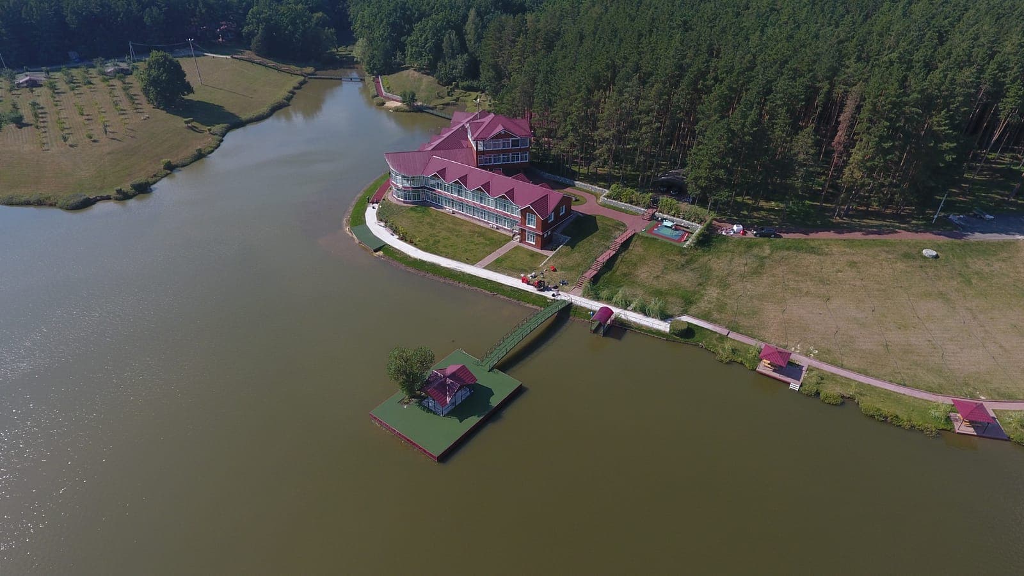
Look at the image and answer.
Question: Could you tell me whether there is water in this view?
Yes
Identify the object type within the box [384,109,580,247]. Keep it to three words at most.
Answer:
building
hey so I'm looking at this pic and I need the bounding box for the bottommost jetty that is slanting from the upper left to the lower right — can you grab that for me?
[351,225,386,256]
